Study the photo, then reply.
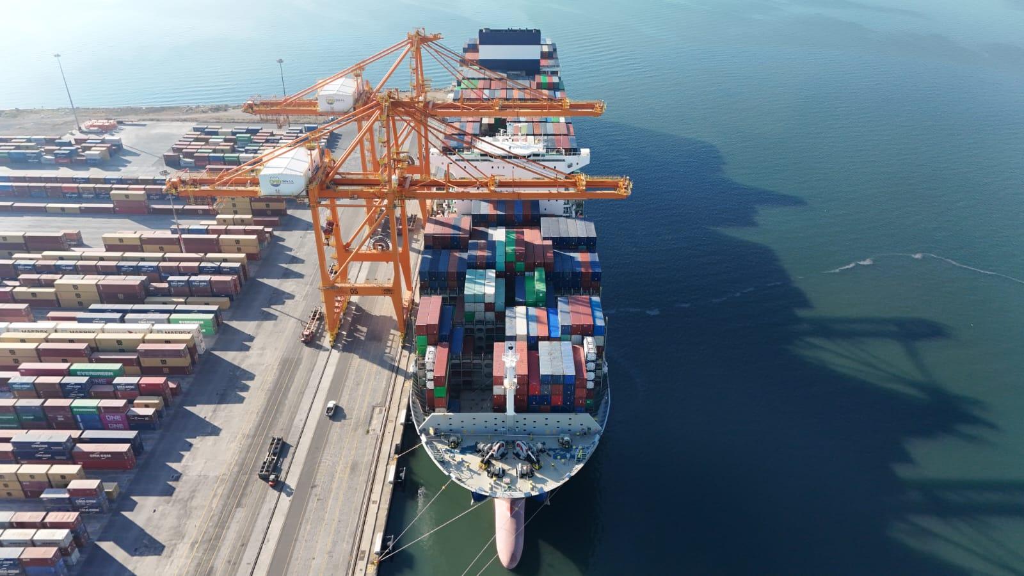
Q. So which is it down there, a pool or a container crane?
container crane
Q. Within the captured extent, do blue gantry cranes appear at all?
No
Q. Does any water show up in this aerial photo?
Yes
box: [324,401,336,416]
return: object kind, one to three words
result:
vehicle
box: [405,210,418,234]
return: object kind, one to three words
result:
vehicle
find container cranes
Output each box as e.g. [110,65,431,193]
[162,82,634,356]
[242,22,605,241]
